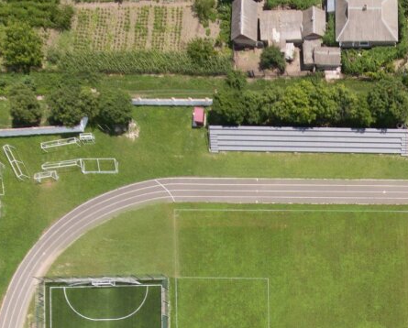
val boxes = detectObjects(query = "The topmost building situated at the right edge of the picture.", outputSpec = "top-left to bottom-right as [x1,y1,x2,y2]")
[336,0,398,48]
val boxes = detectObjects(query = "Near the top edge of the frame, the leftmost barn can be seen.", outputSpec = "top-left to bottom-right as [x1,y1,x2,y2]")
[232,0,260,48]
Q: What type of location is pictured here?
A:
sports ground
